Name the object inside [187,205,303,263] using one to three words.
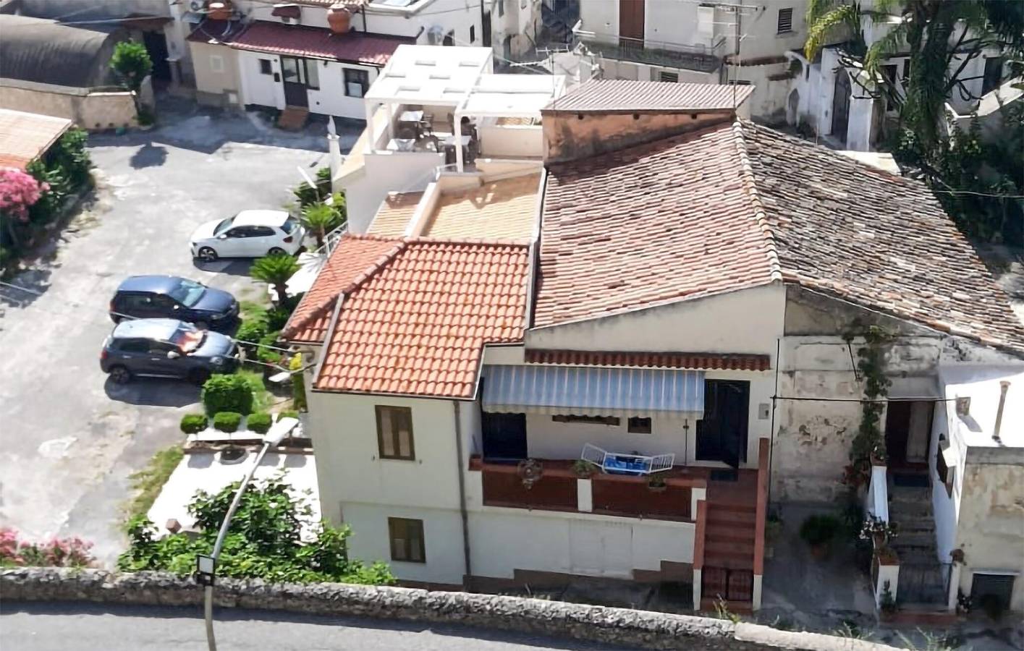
car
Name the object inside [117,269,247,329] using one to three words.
car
